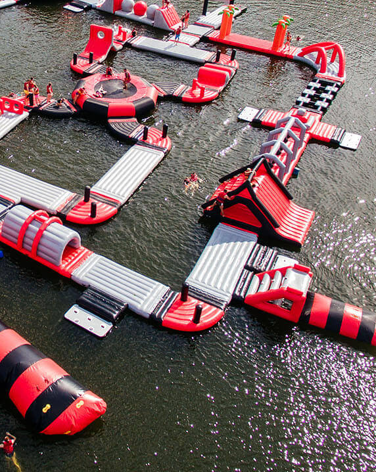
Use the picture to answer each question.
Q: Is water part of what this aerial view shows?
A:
Yes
